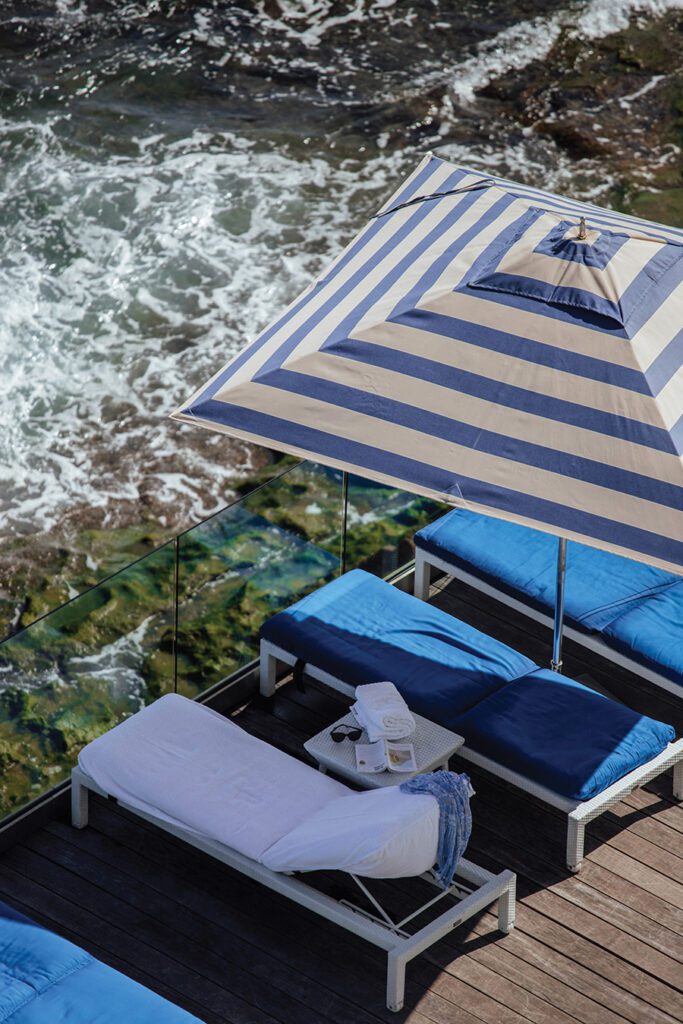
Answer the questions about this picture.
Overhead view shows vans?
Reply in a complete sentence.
No, there is no van in the image.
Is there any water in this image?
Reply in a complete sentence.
Yes, some water is visible.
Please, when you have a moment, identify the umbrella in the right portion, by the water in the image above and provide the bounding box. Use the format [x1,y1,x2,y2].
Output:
[168,153,683,696]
